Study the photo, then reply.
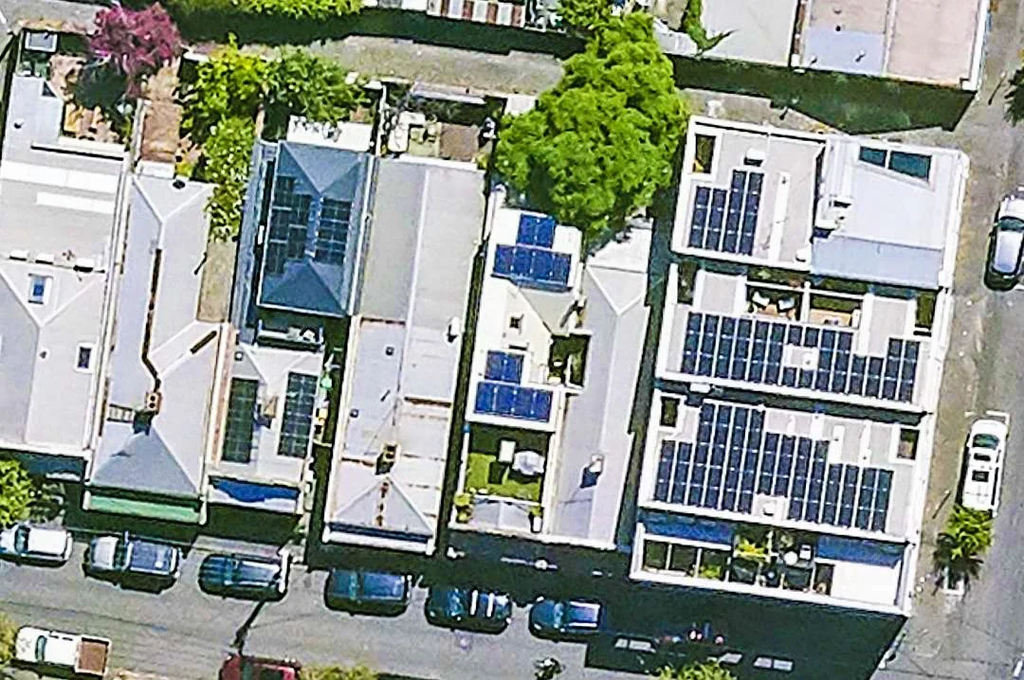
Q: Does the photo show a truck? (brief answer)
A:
Yes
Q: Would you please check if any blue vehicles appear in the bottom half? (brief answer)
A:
Yes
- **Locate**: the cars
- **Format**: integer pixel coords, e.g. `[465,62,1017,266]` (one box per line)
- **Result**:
[593,622,674,663]
[325,567,411,609]
[89,537,181,582]
[198,549,284,591]
[219,657,302,680]
[425,585,512,628]
[707,641,796,680]
[981,192,1024,289]
[0,523,73,565]
[528,595,605,636]
[960,416,1008,513]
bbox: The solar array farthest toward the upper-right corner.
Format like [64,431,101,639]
[689,171,764,253]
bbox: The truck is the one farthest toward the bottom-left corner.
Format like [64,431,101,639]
[9,628,117,677]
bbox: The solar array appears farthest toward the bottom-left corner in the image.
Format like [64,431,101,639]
[222,377,258,463]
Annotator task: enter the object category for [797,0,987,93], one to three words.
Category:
building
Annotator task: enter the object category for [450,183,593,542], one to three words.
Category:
house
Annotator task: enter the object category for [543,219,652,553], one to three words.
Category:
house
